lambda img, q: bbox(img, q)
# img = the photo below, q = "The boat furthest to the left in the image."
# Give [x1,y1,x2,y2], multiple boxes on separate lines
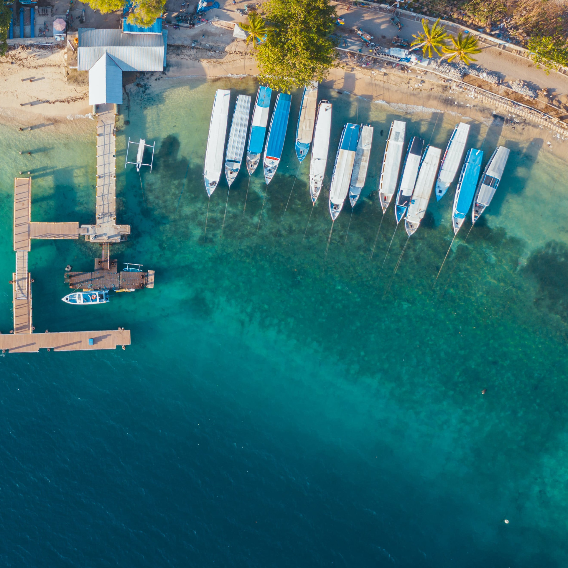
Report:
[62,290,111,305]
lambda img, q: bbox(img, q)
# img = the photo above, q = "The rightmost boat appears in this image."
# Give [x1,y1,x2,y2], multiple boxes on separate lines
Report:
[464,146,509,238]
